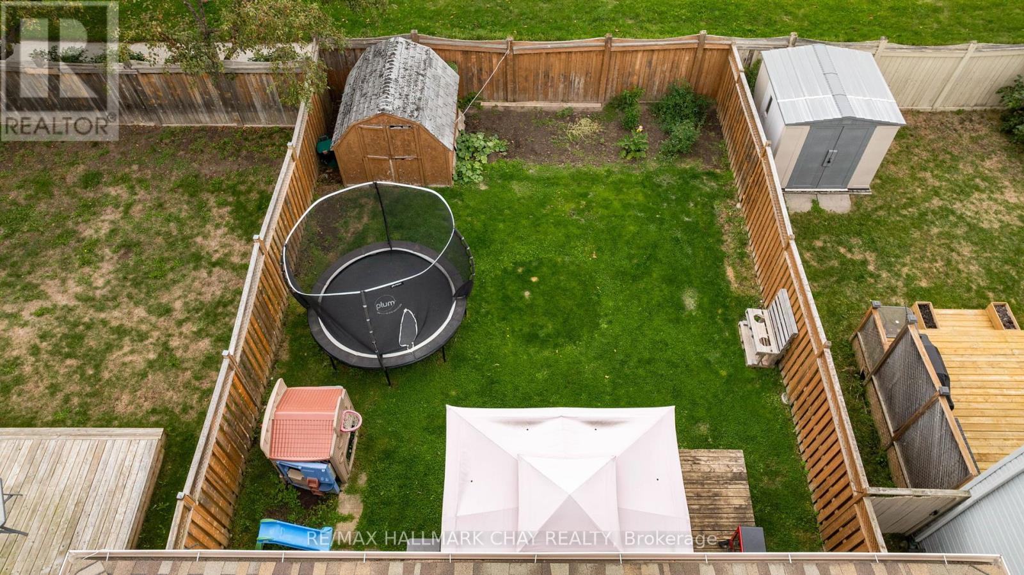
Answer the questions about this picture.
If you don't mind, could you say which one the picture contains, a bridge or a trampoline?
trampoline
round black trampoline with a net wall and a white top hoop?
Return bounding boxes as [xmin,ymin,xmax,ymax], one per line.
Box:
[280,181,474,388]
